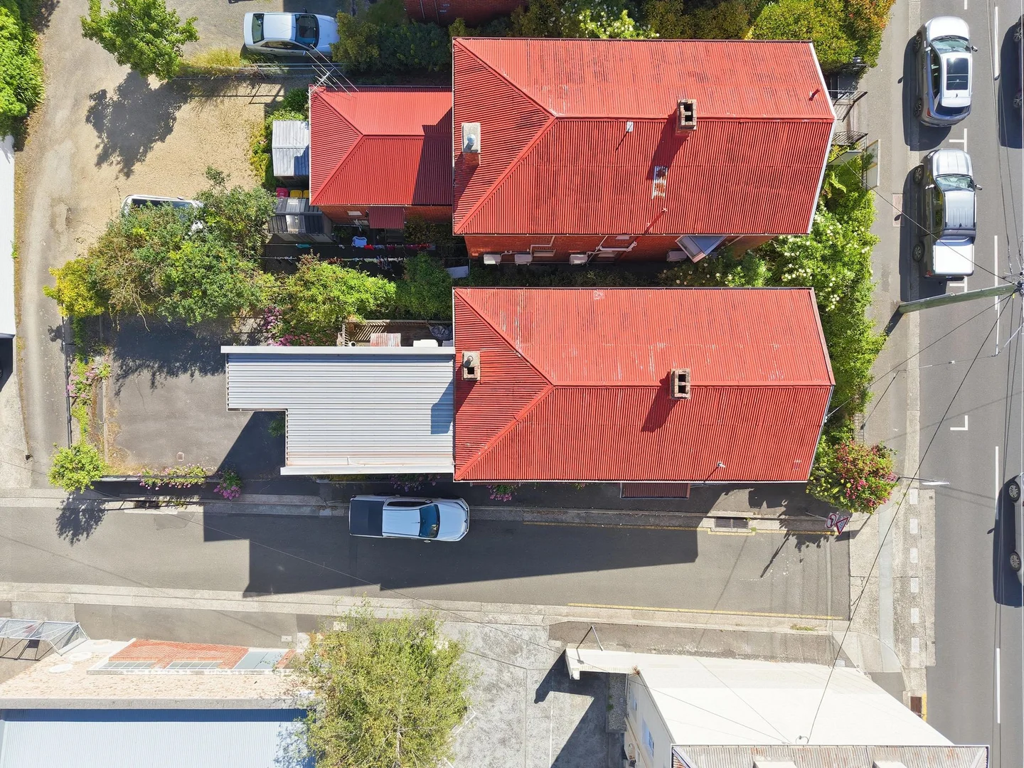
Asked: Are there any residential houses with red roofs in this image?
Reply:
Yes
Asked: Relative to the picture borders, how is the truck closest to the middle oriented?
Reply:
horizontally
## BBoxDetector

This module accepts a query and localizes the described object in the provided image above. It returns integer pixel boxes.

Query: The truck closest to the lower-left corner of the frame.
[348,494,467,547]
